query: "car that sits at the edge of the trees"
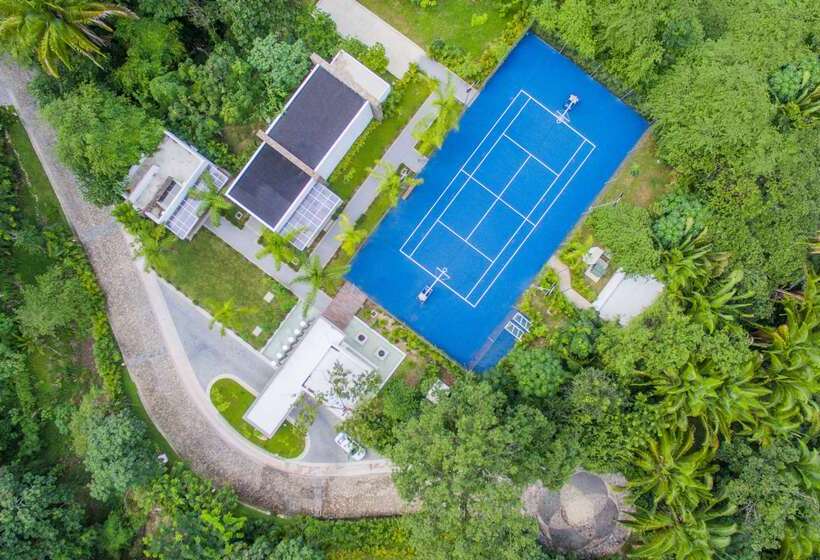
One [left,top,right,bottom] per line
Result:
[333,433,366,463]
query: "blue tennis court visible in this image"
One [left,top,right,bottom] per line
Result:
[348,34,645,379]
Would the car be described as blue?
No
